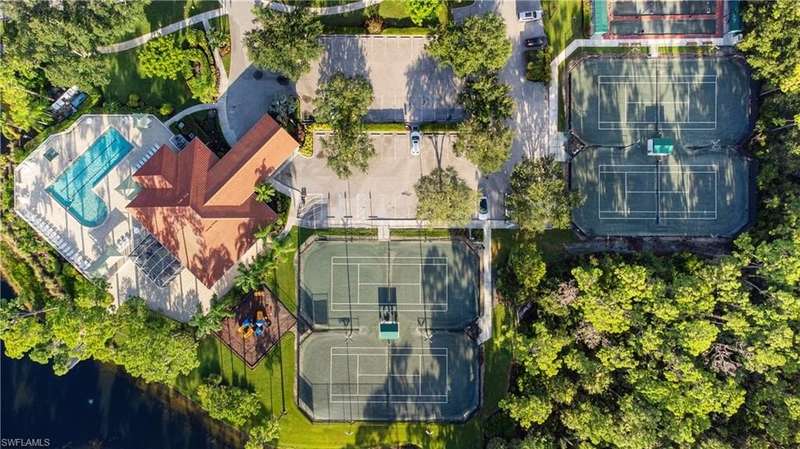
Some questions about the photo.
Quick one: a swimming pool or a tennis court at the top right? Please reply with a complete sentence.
It is a tennis court that can be seen at the top right.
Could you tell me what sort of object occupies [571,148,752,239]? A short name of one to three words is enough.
tennis court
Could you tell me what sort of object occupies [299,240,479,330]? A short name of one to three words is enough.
tennis court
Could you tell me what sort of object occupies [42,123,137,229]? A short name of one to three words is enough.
swimming pool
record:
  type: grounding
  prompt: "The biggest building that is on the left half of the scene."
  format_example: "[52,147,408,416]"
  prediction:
[125,113,300,287]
